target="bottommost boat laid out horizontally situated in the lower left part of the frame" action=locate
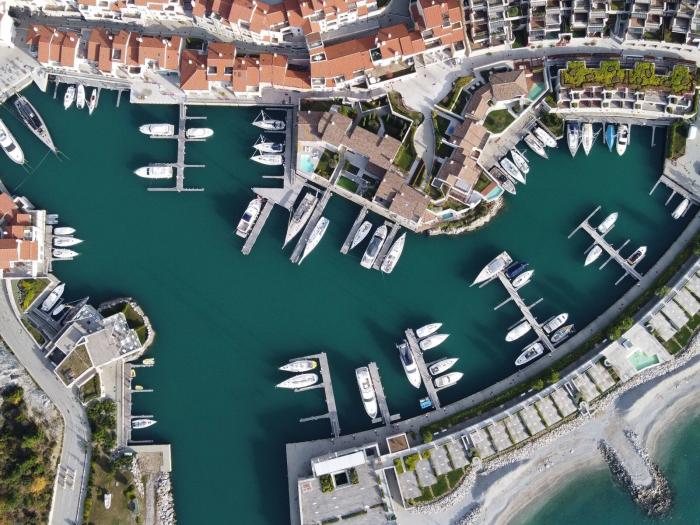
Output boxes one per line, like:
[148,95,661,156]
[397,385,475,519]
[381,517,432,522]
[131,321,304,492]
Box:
[131,418,159,432]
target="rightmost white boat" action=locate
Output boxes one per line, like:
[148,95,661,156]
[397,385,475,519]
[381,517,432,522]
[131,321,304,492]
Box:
[673,196,690,220]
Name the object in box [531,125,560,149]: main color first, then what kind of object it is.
white boat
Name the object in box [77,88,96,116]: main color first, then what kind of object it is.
white boat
